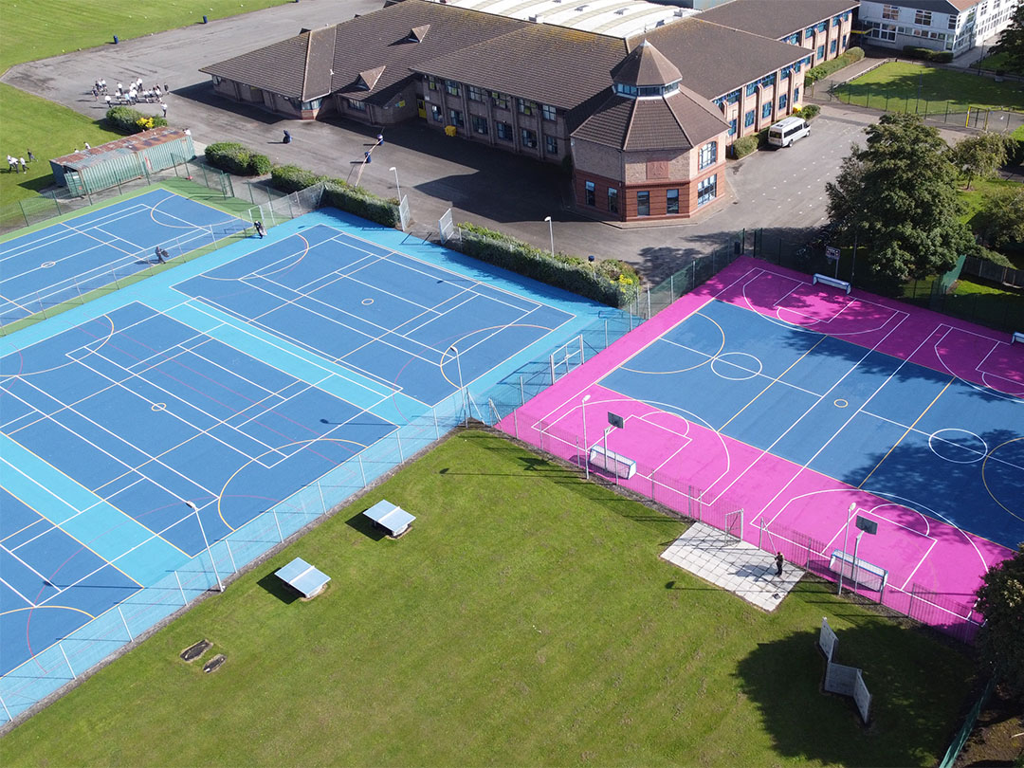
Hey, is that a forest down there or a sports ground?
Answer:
sports ground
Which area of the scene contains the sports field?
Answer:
top left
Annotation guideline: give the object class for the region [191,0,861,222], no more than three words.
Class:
building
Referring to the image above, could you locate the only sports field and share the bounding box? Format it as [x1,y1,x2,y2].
[0,0,291,226]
